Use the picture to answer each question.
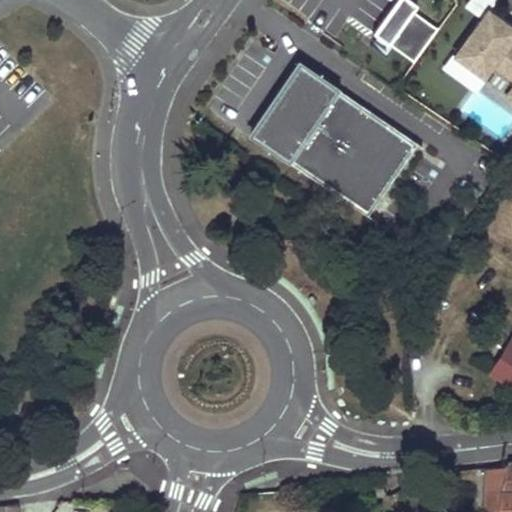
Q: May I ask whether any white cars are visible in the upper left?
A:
Yes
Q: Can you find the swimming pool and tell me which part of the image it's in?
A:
top right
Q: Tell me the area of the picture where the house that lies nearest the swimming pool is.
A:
top right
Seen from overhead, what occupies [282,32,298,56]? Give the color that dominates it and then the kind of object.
white car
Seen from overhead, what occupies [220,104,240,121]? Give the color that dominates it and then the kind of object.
white car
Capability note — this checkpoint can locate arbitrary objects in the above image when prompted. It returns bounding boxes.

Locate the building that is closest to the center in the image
[250,63,421,216]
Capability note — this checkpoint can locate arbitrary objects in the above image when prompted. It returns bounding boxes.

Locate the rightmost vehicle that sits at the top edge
[312,6,328,28]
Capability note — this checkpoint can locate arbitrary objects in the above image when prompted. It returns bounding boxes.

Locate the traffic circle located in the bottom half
[117,274,316,473]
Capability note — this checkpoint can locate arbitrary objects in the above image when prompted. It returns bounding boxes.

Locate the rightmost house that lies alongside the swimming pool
[444,10,512,96]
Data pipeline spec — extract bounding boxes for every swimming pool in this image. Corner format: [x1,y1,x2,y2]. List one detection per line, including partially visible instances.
[458,90,512,139]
